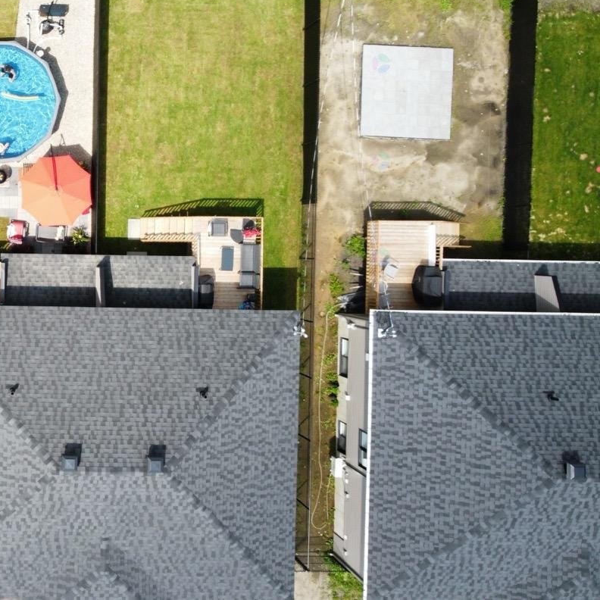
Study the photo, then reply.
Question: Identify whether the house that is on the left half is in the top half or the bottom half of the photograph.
bottom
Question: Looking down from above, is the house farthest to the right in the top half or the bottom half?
bottom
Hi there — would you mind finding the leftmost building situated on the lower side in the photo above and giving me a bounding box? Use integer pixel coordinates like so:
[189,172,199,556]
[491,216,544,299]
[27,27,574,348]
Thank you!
[0,251,304,600]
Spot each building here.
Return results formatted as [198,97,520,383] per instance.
[0,251,304,600]
[336,254,600,600]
